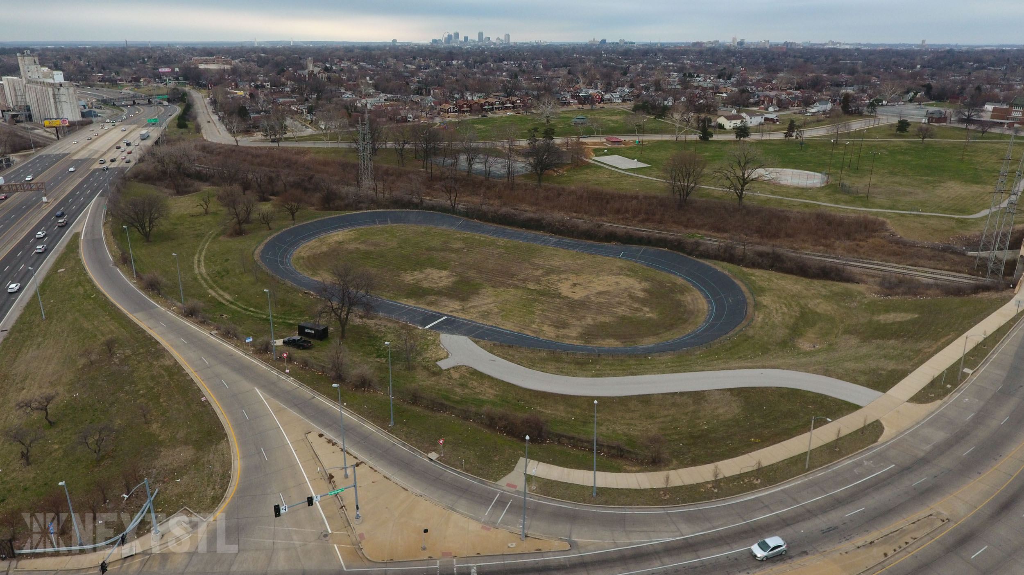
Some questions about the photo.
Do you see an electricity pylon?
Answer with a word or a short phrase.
Yes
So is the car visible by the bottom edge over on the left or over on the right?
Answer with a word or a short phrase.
right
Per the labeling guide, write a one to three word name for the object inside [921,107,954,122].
house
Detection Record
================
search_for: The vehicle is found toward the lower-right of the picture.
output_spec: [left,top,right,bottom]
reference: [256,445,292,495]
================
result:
[751,540,792,566]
